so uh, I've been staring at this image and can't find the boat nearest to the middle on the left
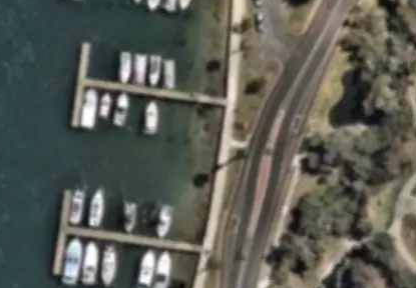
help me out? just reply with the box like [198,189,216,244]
[145,101,157,137]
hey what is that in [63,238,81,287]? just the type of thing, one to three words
boat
